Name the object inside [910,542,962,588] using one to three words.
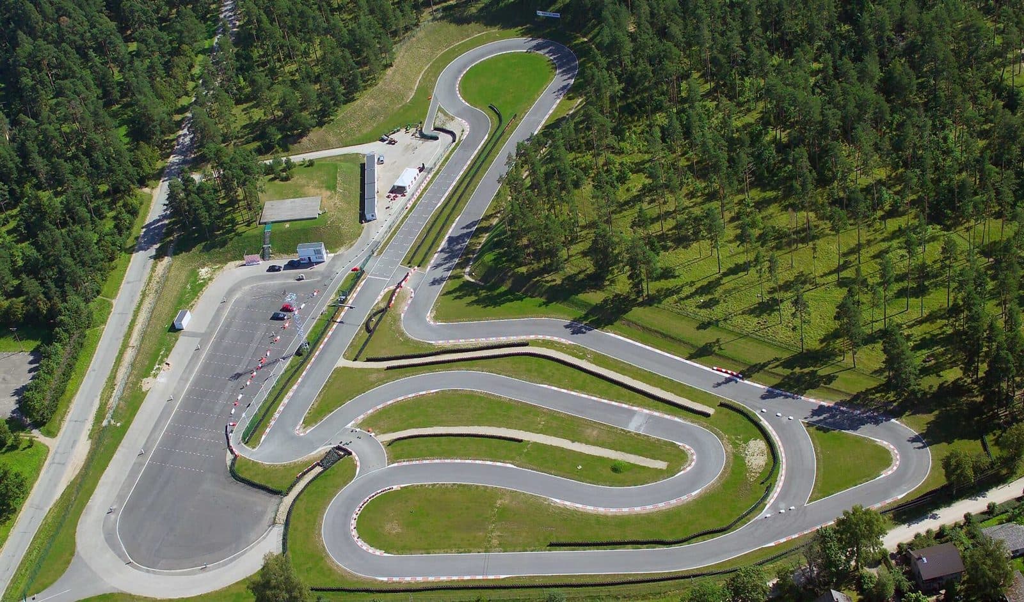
house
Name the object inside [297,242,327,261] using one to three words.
building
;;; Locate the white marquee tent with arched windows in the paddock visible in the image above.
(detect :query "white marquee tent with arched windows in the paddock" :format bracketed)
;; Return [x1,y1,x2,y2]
[395,166,419,191]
